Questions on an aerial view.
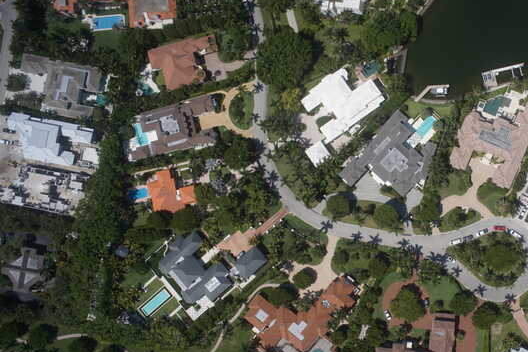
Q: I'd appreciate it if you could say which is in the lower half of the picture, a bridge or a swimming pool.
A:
swimming pool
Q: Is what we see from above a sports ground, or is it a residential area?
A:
residential area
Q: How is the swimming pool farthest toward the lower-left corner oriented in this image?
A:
at an angle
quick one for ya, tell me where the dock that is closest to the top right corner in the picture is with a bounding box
[481,62,526,90]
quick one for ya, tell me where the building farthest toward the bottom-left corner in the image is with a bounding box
[1,238,57,301]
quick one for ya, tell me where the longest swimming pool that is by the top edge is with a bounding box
[92,13,125,31]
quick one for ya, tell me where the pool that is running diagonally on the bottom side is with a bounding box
[141,289,172,316]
